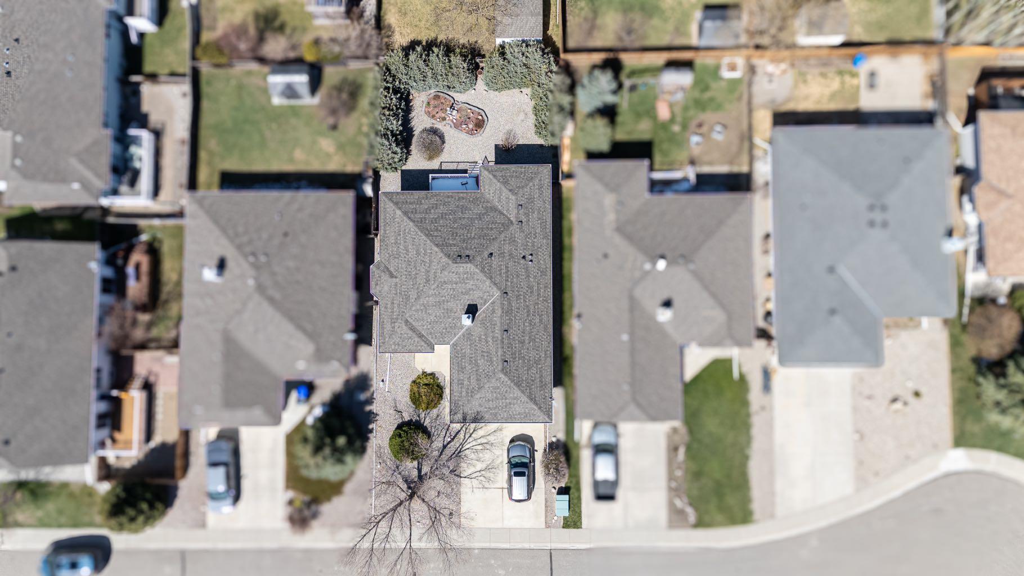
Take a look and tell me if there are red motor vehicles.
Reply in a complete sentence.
No, there appears to be no red motor vehicle in this shot.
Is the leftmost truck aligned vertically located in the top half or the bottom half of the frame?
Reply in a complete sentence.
It is in the bottom half that the leftmost truck aligned vertically appears.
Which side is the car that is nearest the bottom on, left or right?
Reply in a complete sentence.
The car that is nearest the bottom is on the left side of the image.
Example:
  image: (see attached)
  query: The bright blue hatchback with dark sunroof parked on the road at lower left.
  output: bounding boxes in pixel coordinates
[42,548,105,576]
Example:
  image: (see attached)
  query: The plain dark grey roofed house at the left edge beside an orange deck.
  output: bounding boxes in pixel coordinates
[0,240,123,468]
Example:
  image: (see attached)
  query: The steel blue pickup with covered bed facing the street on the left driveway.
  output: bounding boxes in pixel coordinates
[201,433,240,515]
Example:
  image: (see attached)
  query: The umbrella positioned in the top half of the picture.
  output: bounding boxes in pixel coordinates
[845,56,864,73]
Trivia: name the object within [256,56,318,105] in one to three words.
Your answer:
shed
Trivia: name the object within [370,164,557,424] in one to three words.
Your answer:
house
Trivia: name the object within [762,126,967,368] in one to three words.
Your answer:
house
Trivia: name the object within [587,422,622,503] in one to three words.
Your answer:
truck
